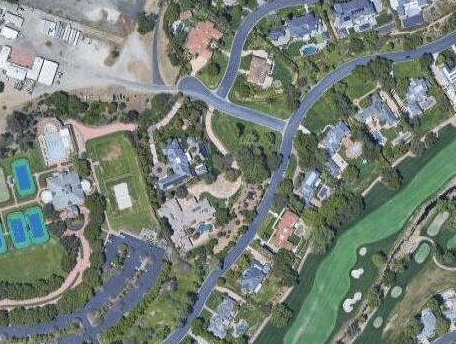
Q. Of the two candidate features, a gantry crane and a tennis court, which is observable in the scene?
tennis court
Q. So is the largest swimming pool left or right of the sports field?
to its left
